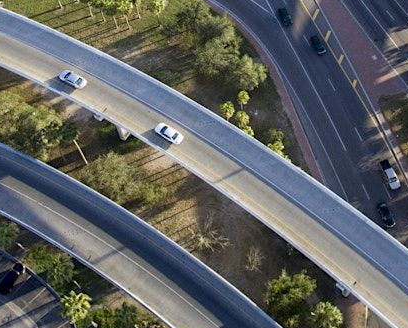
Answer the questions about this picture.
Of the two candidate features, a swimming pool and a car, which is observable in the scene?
car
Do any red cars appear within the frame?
No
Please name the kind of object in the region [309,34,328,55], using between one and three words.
car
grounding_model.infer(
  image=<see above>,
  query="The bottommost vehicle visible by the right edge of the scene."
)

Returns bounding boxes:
[377,200,397,230]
